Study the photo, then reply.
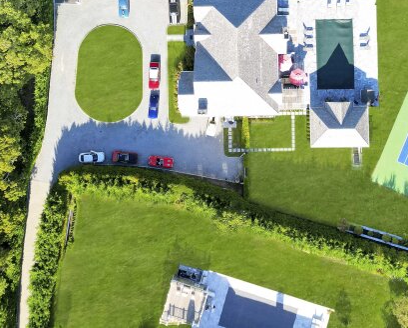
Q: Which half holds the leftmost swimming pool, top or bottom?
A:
bottom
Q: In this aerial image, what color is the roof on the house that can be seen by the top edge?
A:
white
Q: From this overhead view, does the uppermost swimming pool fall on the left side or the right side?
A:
right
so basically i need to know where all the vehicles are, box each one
[117,0,128,19]
[110,151,139,164]
[147,91,159,119]
[147,157,175,169]
[147,61,159,90]
[168,0,179,25]
[77,149,105,164]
